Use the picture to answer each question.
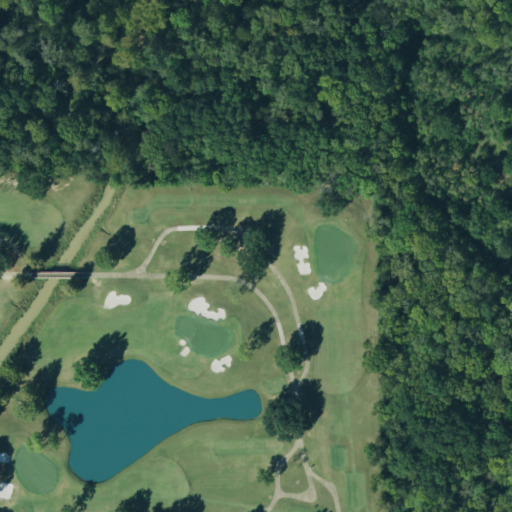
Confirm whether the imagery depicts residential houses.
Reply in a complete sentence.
No, the photo shows no residential house.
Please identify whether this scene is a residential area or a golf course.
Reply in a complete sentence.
The area seen from above is a golf course.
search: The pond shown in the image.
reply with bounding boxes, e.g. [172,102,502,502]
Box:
[48,358,262,482]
